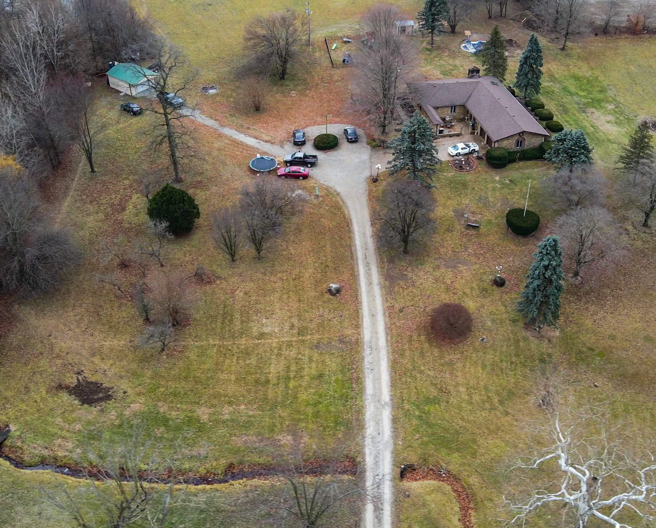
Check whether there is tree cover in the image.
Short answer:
Yes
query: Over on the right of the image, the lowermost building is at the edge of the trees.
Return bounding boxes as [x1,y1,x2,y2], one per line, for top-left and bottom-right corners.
[402,65,550,148]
